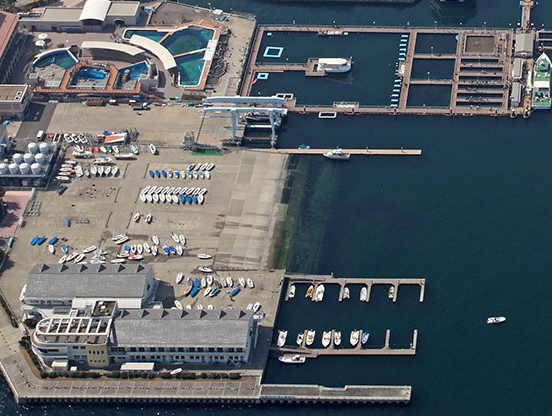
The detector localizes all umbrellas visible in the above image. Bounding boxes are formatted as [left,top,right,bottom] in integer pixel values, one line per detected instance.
[33,38,45,50]
[35,31,48,40]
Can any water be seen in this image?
Yes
